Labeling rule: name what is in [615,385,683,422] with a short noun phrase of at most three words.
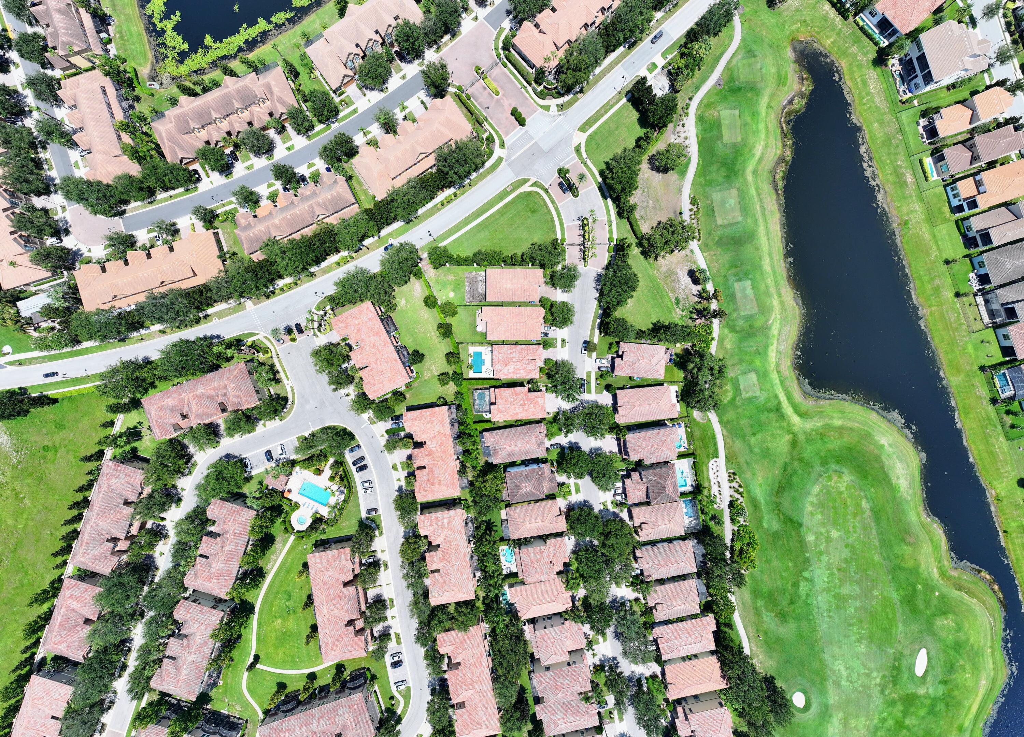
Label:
house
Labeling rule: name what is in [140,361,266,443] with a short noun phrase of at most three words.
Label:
building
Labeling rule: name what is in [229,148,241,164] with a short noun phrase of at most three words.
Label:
vehicle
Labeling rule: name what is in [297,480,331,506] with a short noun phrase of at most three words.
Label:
swimming pool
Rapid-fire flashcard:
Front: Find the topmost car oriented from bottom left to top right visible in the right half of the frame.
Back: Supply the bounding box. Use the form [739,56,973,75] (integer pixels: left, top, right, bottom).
[650,30,664,44]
